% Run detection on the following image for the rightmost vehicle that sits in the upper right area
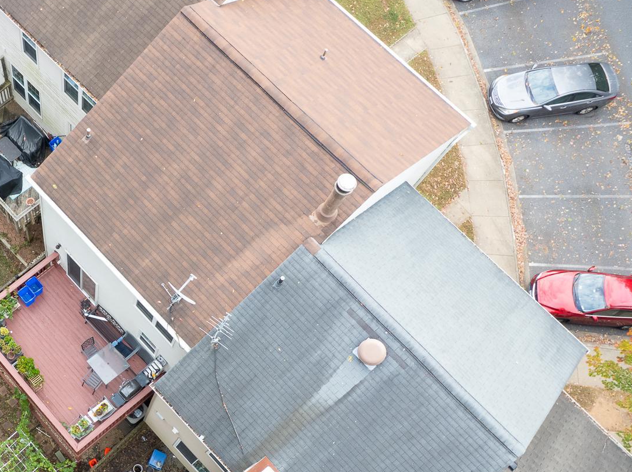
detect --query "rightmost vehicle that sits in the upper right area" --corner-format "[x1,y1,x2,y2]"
[486,61,626,125]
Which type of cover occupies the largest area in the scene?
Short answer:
buildings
